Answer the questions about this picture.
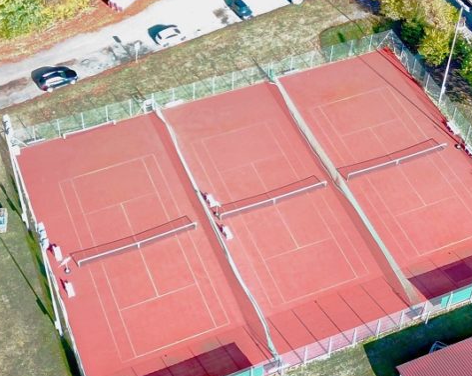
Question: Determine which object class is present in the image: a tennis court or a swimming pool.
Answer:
tennis court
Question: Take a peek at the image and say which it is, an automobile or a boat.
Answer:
automobile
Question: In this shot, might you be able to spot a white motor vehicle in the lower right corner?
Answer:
No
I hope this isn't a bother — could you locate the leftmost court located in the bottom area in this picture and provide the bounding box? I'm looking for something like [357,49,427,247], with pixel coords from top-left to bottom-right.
[18,111,280,376]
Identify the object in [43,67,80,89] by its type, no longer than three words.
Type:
car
